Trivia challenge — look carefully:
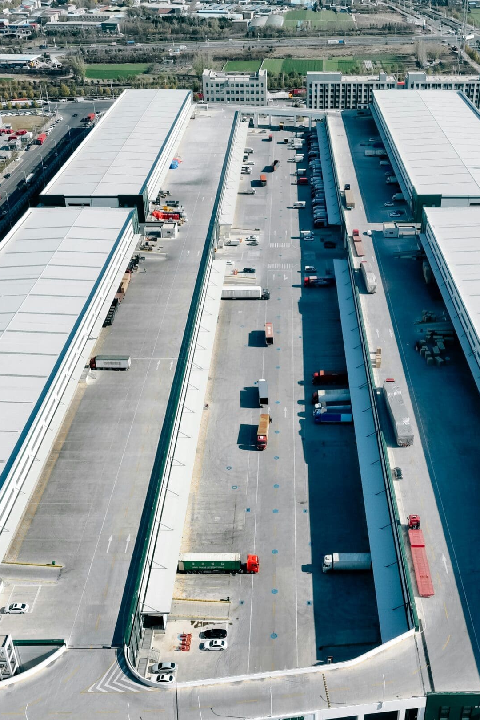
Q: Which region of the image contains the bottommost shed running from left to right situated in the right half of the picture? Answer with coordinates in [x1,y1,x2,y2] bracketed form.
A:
[382,220,417,237]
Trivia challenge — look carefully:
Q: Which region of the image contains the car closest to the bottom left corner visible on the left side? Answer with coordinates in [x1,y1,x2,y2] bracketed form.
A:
[6,601,34,614]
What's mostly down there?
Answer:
paved ground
